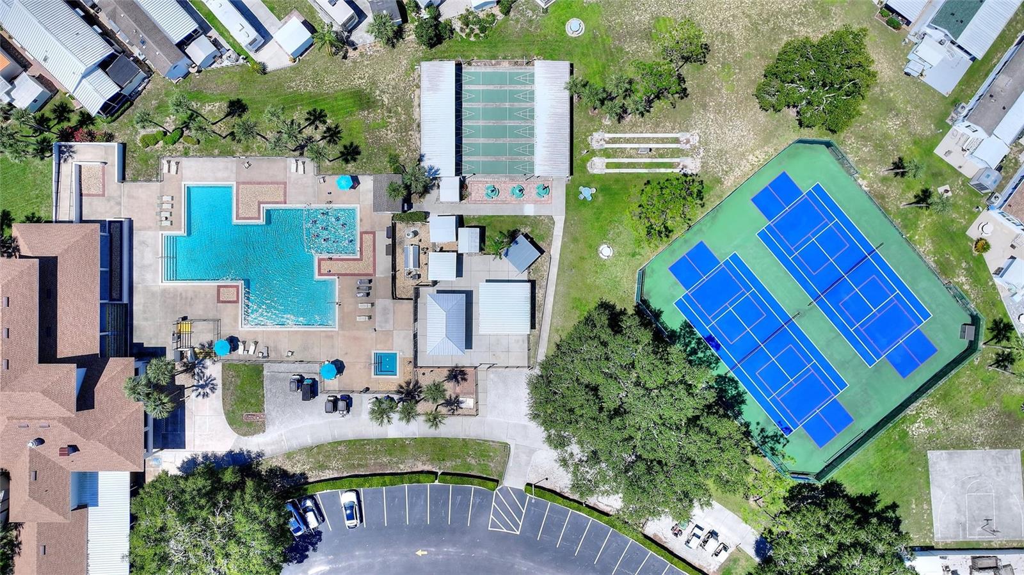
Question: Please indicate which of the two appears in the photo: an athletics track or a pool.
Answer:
pool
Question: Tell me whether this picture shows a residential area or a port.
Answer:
residential area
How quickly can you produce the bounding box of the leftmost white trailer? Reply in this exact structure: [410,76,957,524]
[206,0,270,55]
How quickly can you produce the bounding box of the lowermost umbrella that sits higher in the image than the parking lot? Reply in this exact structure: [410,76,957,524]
[320,362,338,380]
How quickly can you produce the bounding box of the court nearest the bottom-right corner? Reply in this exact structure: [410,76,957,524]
[928,450,1024,542]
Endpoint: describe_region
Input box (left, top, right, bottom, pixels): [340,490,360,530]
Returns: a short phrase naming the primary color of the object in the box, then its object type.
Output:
white car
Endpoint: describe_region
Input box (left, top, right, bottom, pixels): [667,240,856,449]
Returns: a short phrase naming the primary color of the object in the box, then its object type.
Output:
blue tennis court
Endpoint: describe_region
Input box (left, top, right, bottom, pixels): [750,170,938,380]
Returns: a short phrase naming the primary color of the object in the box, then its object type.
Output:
blue tennis court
